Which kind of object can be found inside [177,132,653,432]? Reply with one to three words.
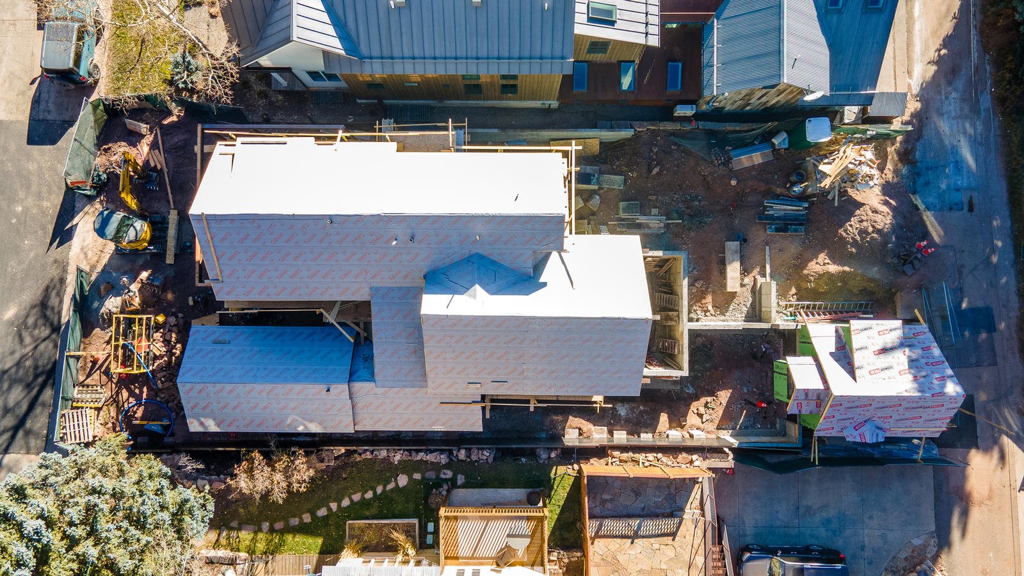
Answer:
house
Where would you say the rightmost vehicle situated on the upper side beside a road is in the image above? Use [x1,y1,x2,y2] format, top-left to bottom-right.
[94,152,180,259]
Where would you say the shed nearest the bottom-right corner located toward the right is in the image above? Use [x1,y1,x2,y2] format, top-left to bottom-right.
[773,307,964,443]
